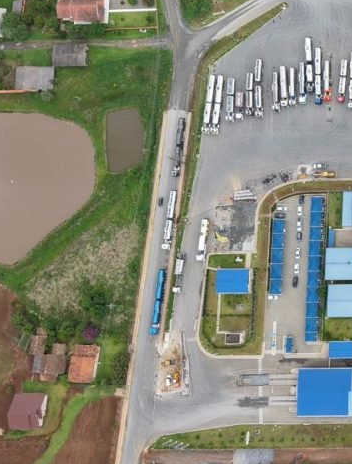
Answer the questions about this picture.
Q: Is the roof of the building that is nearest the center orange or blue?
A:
blue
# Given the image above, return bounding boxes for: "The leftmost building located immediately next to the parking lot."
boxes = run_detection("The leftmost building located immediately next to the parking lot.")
[216,269,251,294]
